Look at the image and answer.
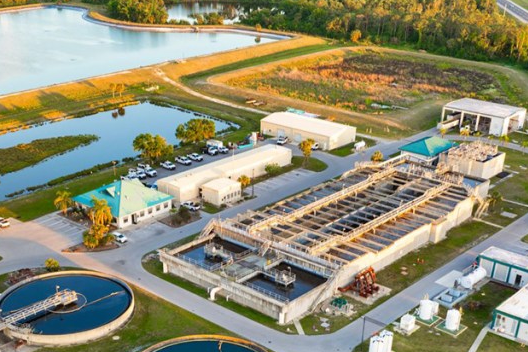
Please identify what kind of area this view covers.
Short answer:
industrial area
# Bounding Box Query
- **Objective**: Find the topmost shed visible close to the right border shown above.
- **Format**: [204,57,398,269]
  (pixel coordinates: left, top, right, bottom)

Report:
[441,99,528,135]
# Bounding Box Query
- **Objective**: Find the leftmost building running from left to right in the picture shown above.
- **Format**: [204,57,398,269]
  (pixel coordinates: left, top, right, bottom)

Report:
[68,180,177,227]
